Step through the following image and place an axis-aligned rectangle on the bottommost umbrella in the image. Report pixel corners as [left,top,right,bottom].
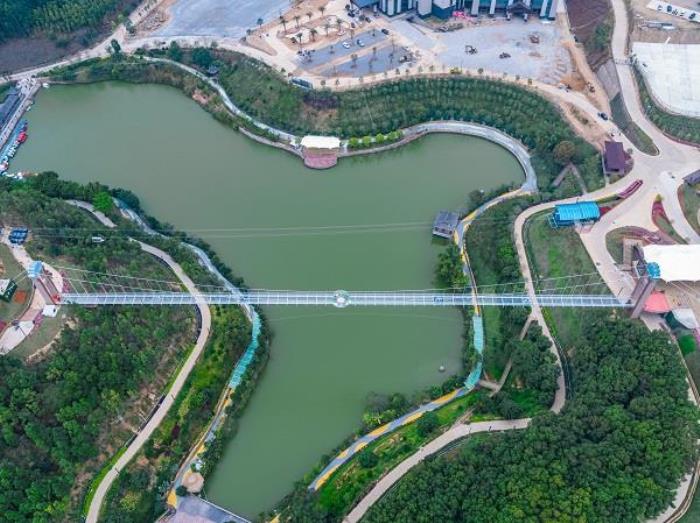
[179,468,201,490]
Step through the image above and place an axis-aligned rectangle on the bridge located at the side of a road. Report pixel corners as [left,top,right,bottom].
[12,258,700,312]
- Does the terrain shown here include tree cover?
Yes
